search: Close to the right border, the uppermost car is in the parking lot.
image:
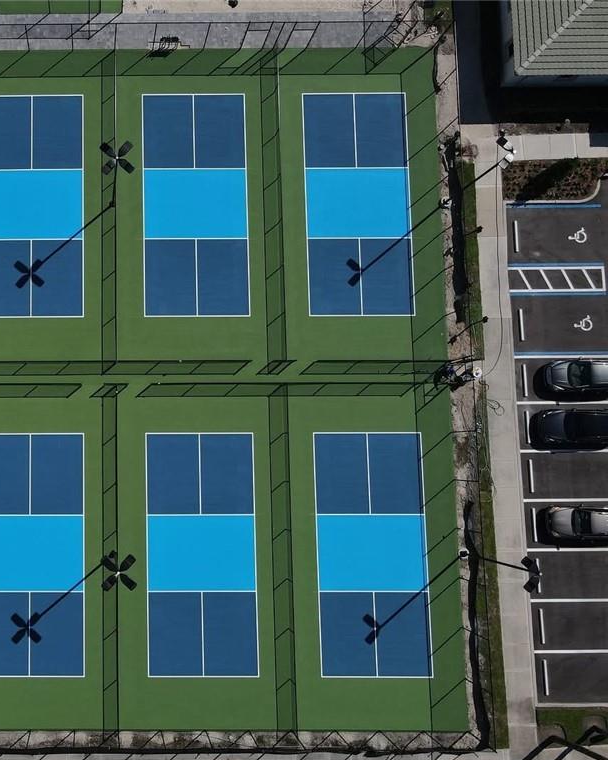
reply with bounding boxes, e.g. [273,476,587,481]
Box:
[538,354,608,394]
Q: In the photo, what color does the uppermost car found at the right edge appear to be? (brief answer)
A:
black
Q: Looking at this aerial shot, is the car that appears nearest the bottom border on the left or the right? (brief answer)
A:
right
